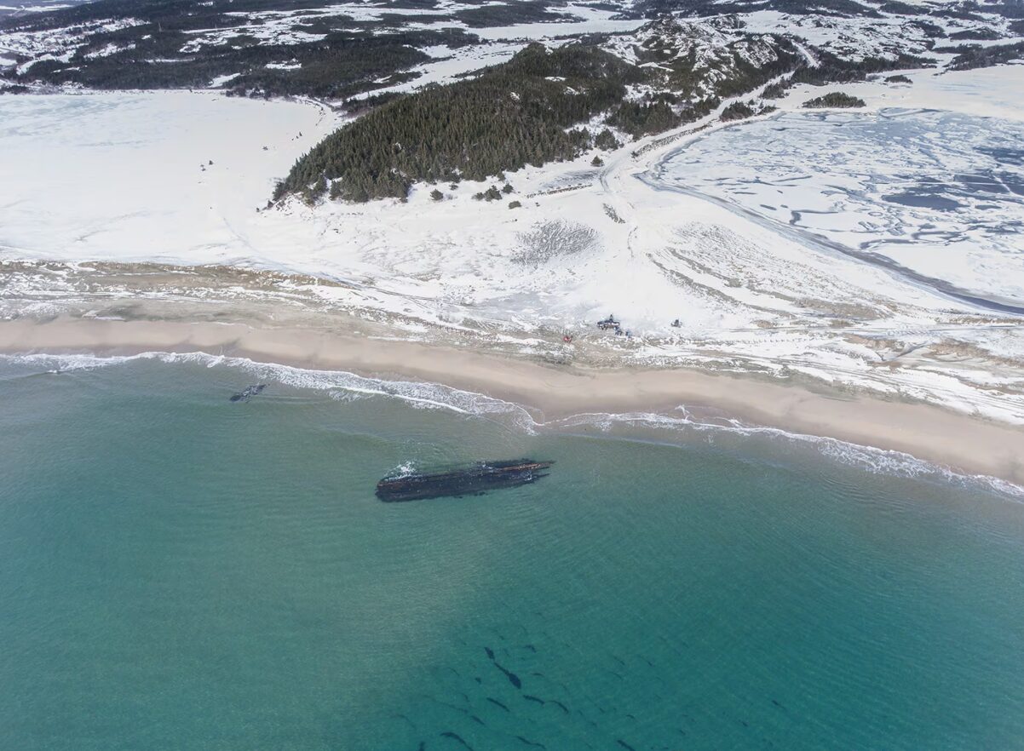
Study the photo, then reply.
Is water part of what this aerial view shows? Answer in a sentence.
Yes, some water is visible.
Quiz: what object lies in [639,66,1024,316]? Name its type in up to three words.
pond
